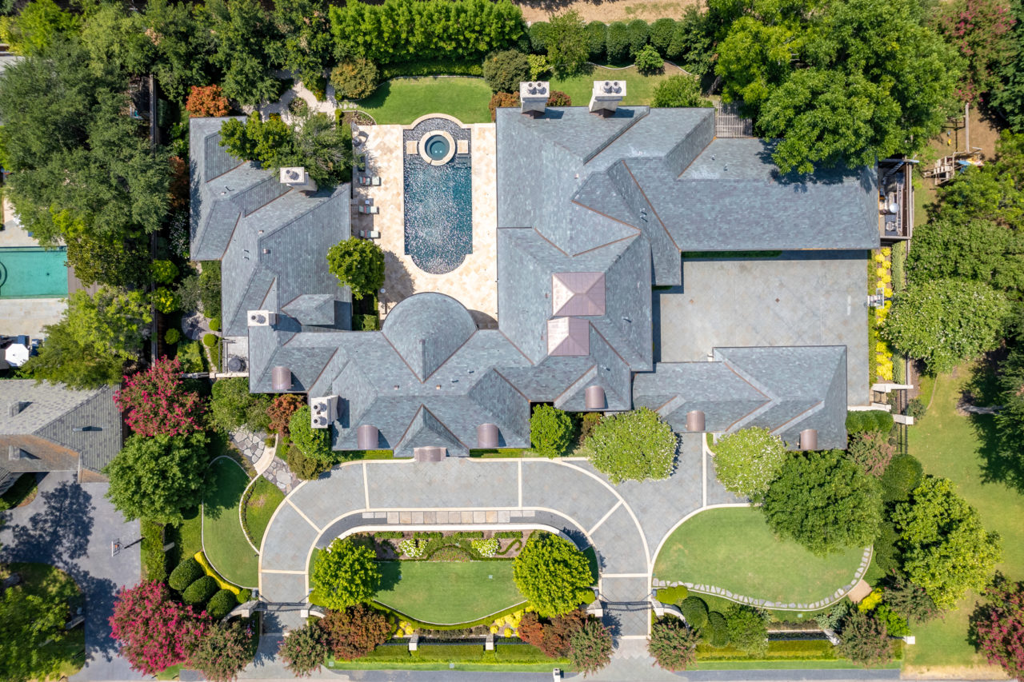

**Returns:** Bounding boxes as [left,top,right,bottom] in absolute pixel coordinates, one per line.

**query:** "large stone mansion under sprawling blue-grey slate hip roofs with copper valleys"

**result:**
[189,80,879,462]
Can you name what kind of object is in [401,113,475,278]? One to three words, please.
swimming pool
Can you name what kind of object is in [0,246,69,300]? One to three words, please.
swimming pool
